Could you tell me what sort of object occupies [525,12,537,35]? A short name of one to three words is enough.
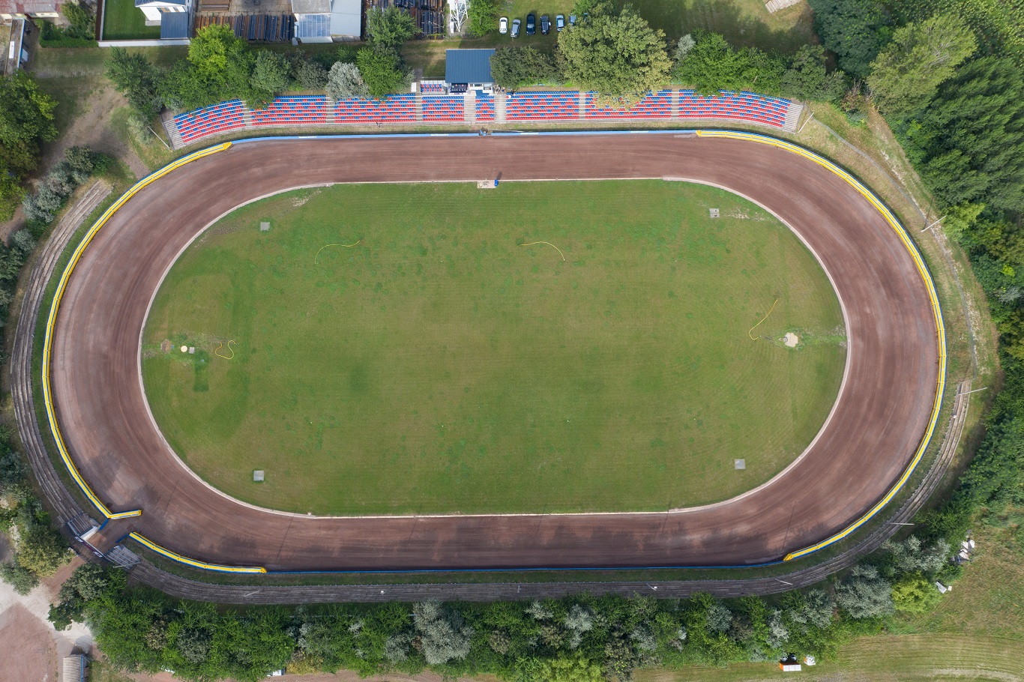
vehicle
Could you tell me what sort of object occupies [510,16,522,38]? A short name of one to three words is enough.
vehicle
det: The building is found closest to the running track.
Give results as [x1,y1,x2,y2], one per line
[445,48,496,97]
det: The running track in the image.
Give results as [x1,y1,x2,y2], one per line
[51,133,937,574]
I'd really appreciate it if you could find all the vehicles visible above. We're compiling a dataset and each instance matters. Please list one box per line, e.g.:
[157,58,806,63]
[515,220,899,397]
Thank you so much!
[525,12,537,35]
[568,10,578,30]
[498,15,509,34]
[539,14,549,35]
[510,16,522,38]
[555,12,566,32]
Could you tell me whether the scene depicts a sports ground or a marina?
sports ground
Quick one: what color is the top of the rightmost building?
blue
